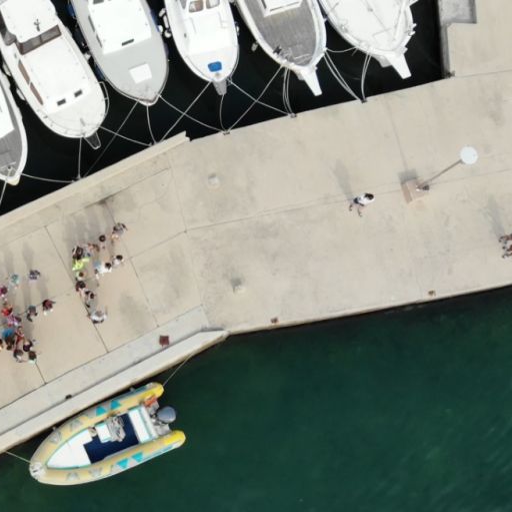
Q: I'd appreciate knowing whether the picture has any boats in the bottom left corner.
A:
Yes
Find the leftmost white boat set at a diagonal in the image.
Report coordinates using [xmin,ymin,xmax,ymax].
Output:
[0,0,105,145]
